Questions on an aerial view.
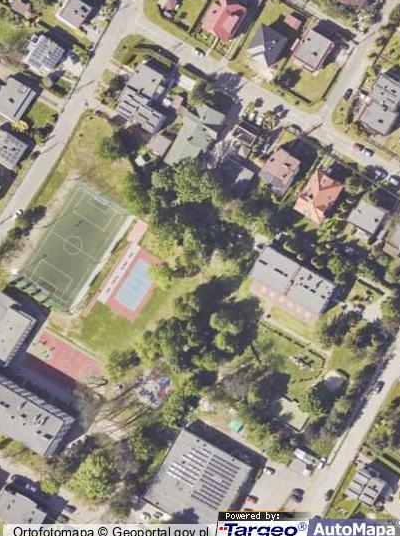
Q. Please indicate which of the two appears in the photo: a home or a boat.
home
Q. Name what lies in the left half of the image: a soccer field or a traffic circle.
soccer field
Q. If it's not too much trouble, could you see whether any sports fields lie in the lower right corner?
No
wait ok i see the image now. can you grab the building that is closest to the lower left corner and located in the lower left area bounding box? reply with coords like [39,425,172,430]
[0,486,47,528]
